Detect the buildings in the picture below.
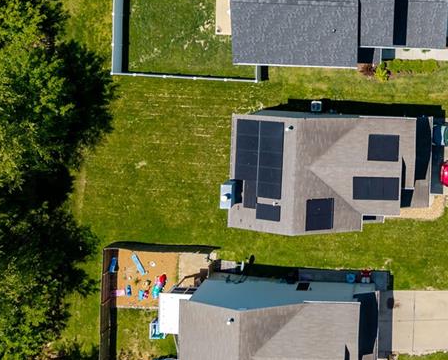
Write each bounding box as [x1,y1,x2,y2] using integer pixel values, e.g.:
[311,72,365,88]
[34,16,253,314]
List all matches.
[219,109,434,237]
[228,0,448,72]
[177,282,380,360]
